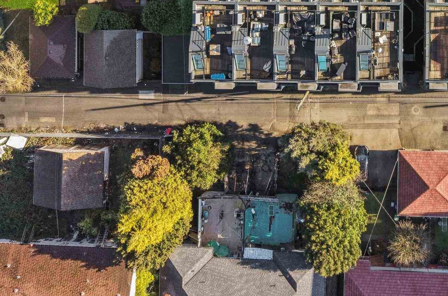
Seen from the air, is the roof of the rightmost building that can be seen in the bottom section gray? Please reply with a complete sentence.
No, the color of the roof of the rightmost building that can be seen in the bottom section is red.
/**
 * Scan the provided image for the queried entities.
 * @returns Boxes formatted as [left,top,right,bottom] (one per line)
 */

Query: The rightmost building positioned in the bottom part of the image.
[397,146,448,218]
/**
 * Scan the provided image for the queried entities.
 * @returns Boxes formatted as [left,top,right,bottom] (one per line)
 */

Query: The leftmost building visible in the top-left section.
[29,16,84,78]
